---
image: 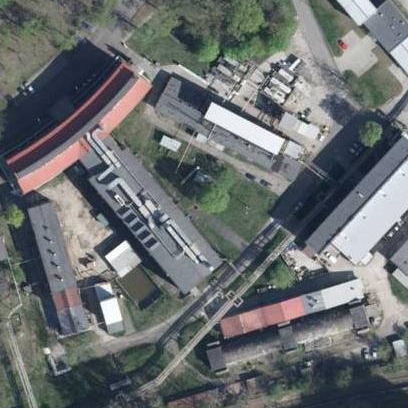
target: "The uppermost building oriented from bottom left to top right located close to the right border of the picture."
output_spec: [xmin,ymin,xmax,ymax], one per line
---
[300,130,408,268]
